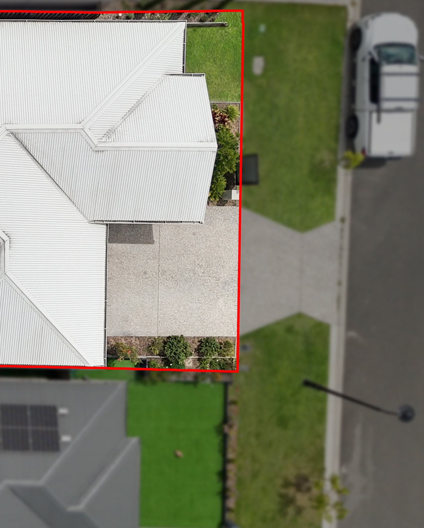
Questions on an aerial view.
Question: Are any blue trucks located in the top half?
No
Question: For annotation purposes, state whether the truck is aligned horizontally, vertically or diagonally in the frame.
vertically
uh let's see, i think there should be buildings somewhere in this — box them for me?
[0,19,218,369]
[0,376,142,528]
